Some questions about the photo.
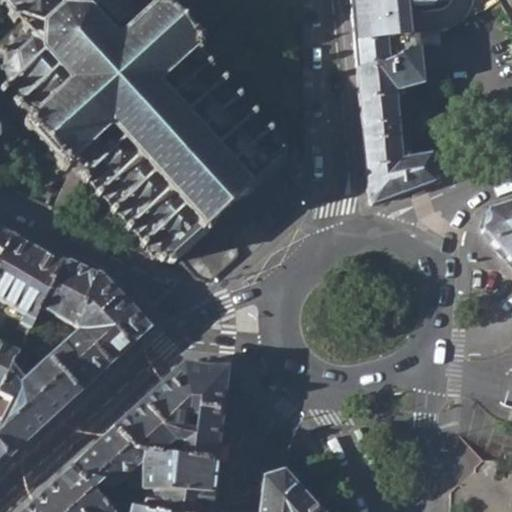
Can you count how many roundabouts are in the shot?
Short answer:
1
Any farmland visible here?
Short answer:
No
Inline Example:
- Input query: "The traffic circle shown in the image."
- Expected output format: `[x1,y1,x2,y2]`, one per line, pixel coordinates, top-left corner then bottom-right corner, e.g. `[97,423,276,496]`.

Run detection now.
[258,222,461,424]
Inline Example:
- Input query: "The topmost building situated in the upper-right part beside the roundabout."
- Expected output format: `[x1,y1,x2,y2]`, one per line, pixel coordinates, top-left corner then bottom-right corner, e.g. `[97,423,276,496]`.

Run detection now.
[352,0,438,207]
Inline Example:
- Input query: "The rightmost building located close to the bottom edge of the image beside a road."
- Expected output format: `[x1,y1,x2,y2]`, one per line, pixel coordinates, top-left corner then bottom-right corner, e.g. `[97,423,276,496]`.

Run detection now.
[260,466,321,512]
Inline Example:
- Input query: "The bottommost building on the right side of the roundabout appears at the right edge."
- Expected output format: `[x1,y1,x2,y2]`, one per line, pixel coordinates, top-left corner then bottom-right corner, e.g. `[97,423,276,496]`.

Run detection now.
[481,198,512,264]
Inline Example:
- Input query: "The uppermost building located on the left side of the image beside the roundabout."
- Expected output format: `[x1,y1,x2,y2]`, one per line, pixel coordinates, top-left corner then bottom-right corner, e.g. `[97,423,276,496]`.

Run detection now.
[0,0,292,270]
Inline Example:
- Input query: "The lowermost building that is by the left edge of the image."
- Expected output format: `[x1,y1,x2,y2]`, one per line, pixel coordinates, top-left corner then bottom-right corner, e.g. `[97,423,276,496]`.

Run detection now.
[22,460,105,512]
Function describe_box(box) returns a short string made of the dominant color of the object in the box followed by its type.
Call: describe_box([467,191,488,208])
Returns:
white car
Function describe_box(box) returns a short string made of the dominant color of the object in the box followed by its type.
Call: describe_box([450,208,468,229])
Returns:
white car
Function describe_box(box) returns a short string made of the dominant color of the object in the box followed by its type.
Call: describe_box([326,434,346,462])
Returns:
white vehicle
